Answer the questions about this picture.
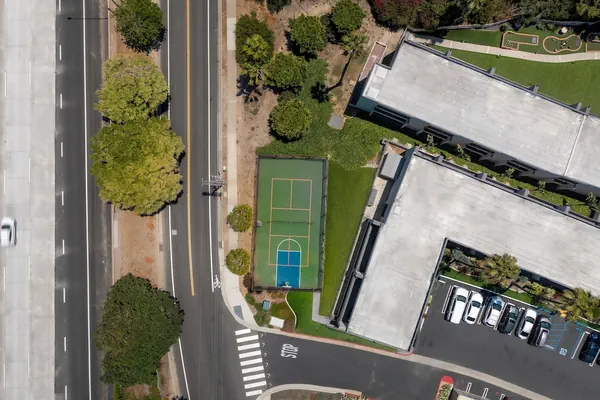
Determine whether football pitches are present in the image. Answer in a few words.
No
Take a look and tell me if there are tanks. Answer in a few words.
No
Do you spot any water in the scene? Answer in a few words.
No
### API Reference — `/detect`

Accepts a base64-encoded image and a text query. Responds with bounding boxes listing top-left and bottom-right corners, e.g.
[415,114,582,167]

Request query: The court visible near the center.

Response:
[253,159,326,290]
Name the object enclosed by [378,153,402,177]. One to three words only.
shed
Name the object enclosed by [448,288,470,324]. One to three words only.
car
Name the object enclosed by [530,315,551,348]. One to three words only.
car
